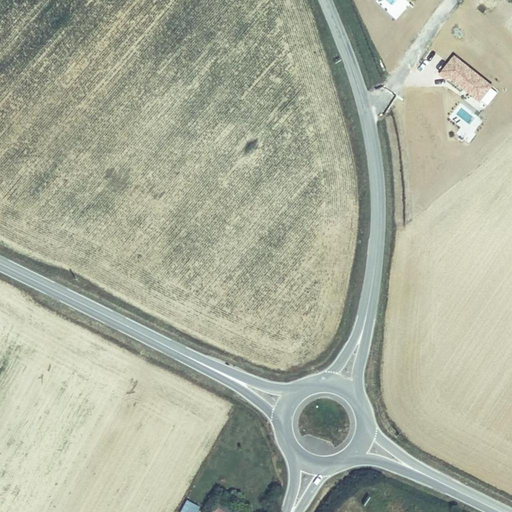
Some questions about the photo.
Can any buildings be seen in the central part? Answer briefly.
No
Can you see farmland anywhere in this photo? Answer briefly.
Yes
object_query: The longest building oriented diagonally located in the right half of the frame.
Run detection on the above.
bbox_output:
[440,52,498,108]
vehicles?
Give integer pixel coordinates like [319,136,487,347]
[427,50,435,61]
[436,60,446,70]
[418,60,426,71]
[313,475,322,486]
[434,79,445,84]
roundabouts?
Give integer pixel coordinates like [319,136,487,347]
[268,370,378,478]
